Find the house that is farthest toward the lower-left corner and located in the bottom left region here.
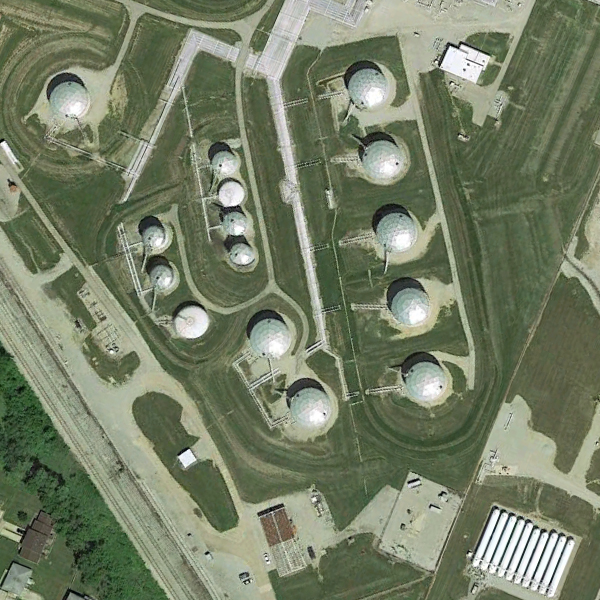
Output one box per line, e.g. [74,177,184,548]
[2,561,31,594]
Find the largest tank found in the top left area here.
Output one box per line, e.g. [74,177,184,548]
[50,80,90,139]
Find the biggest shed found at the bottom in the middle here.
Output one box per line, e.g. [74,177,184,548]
[259,507,295,546]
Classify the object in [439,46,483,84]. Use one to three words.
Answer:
building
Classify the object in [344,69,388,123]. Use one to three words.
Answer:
storage tank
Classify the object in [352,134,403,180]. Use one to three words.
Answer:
storage tank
